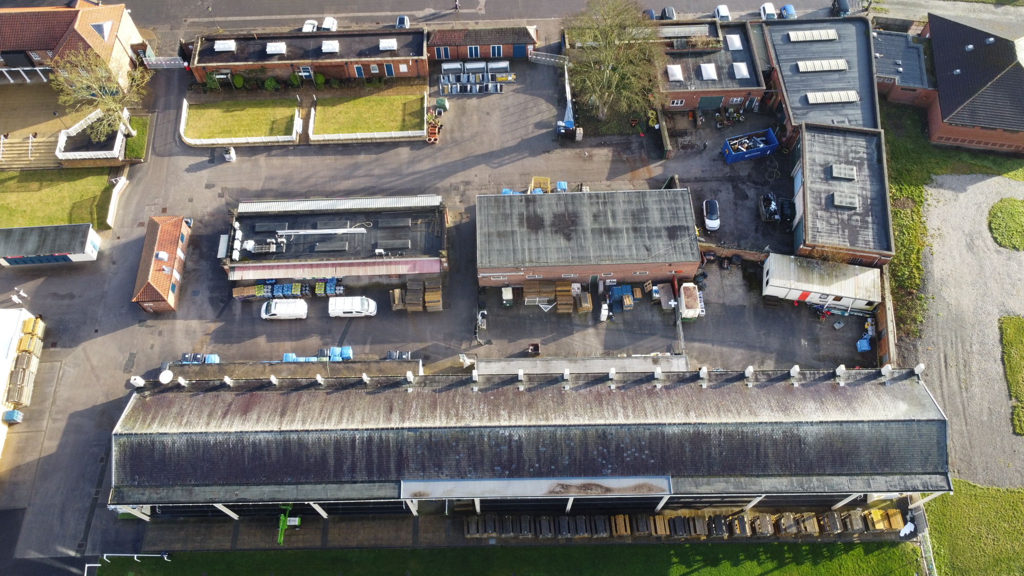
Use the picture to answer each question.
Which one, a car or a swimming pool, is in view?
car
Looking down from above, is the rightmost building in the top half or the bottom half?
top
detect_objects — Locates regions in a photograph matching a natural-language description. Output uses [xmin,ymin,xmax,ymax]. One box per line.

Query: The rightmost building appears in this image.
[921,12,1024,152]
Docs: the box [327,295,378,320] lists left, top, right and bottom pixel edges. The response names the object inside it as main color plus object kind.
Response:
white vehicle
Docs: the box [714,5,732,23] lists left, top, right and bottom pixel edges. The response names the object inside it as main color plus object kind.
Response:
white car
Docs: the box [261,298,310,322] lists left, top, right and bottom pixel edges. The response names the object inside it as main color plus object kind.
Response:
white vehicle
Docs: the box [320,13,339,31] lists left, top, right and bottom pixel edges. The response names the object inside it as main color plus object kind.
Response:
white car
